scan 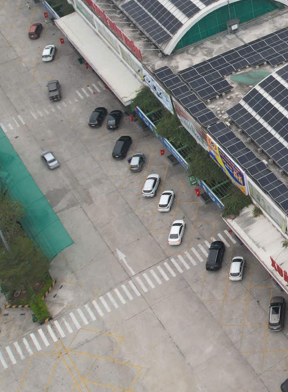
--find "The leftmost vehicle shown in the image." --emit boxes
[27,24,44,39]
